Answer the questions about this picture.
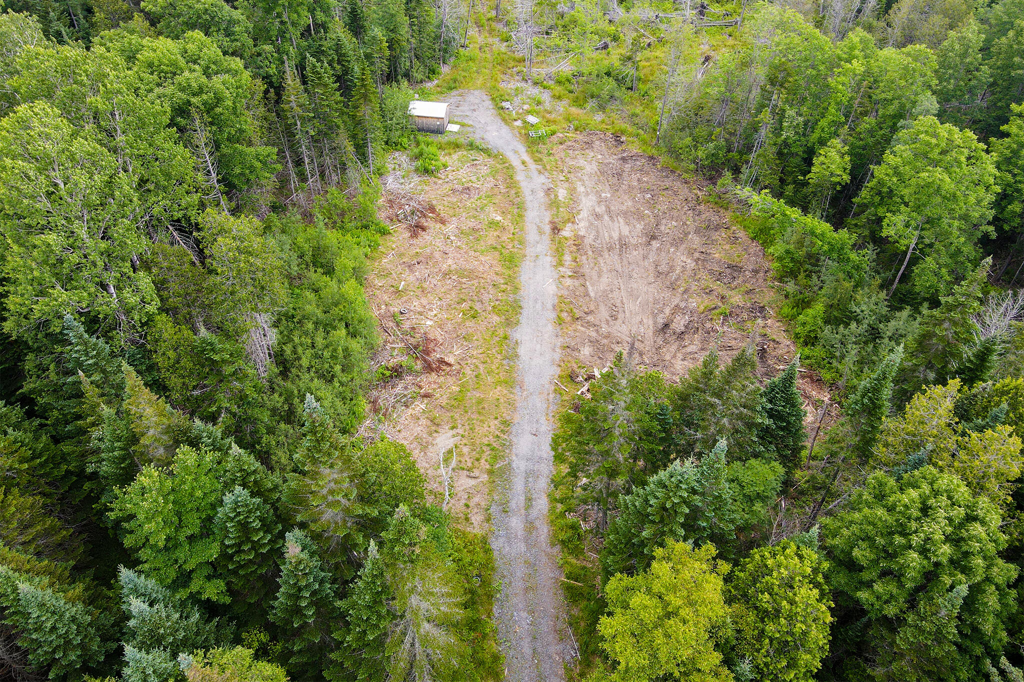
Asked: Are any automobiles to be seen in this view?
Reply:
No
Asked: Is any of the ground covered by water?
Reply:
No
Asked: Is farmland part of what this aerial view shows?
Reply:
No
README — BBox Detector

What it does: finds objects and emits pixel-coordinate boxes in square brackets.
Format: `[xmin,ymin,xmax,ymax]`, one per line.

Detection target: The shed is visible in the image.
[408,104,453,134]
